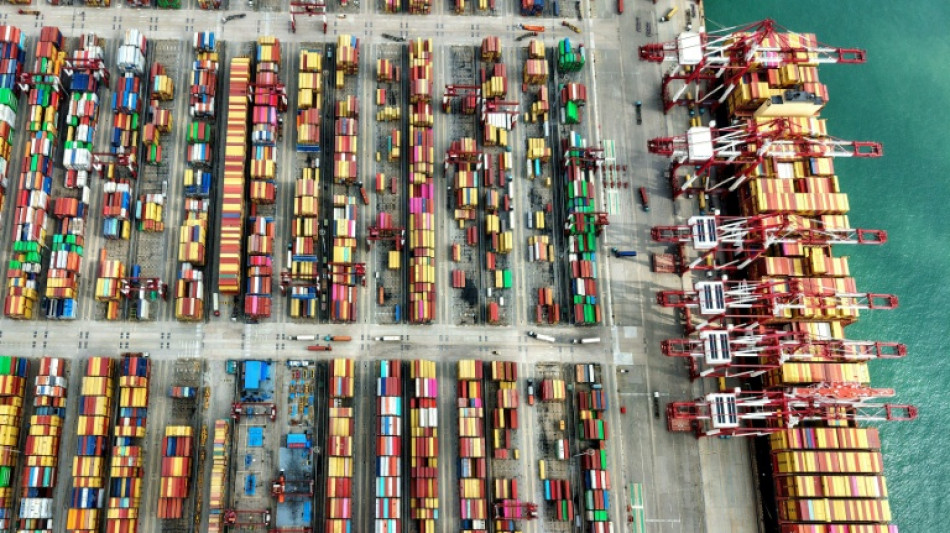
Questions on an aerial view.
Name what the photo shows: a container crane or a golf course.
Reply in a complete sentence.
The one in the frame is a container crane.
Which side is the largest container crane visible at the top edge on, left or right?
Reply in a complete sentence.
The largest container crane visible at the top edge is on the right side of the image.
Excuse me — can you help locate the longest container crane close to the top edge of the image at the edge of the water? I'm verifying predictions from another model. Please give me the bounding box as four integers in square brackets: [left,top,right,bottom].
[640,18,869,112]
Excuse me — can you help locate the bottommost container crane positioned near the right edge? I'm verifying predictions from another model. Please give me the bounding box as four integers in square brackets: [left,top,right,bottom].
[663,378,917,444]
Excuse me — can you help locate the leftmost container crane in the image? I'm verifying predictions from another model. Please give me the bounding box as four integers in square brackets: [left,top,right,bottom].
[18,72,68,100]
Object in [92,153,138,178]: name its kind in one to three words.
container crane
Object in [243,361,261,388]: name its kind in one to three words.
shed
